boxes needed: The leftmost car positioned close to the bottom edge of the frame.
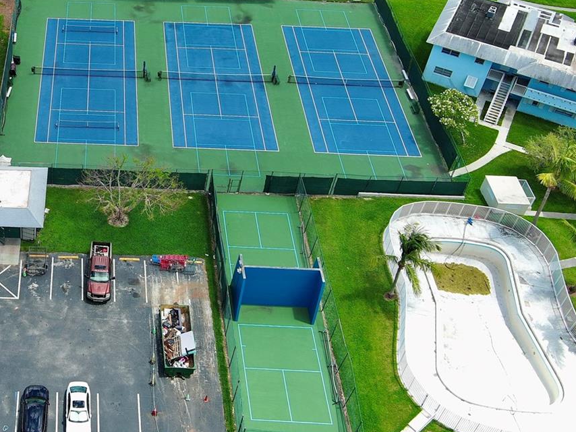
[19,386,49,432]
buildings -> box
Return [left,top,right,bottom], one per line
[0,166,48,244]
[421,0,576,129]
[479,175,540,220]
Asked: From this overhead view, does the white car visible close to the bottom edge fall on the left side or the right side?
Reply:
left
